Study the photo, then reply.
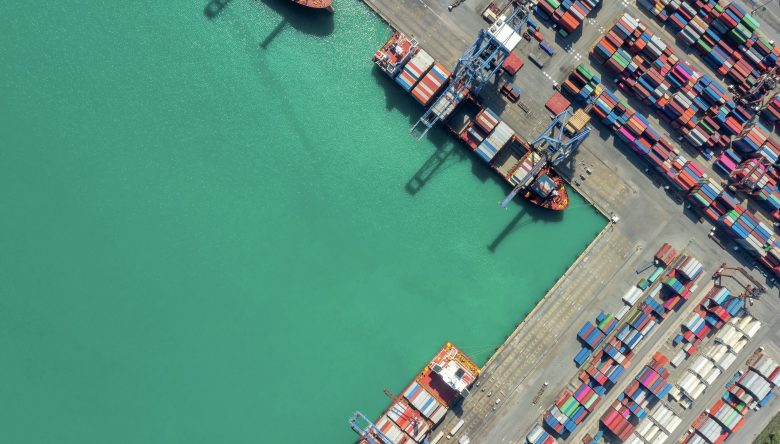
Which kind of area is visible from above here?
port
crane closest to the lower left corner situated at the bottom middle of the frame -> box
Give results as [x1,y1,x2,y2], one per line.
[348,409,399,444]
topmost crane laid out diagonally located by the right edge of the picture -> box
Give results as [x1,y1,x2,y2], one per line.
[730,71,779,113]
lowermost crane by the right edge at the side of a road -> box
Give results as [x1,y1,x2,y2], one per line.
[714,264,766,301]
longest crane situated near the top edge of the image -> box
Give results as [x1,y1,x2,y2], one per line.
[408,2,535,143]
